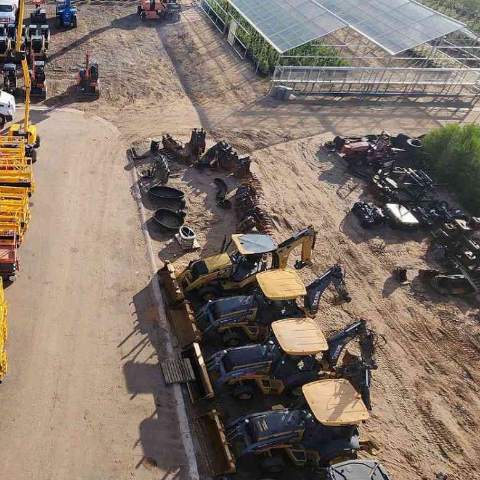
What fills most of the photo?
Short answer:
paved ground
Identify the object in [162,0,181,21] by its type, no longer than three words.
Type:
work vehicle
